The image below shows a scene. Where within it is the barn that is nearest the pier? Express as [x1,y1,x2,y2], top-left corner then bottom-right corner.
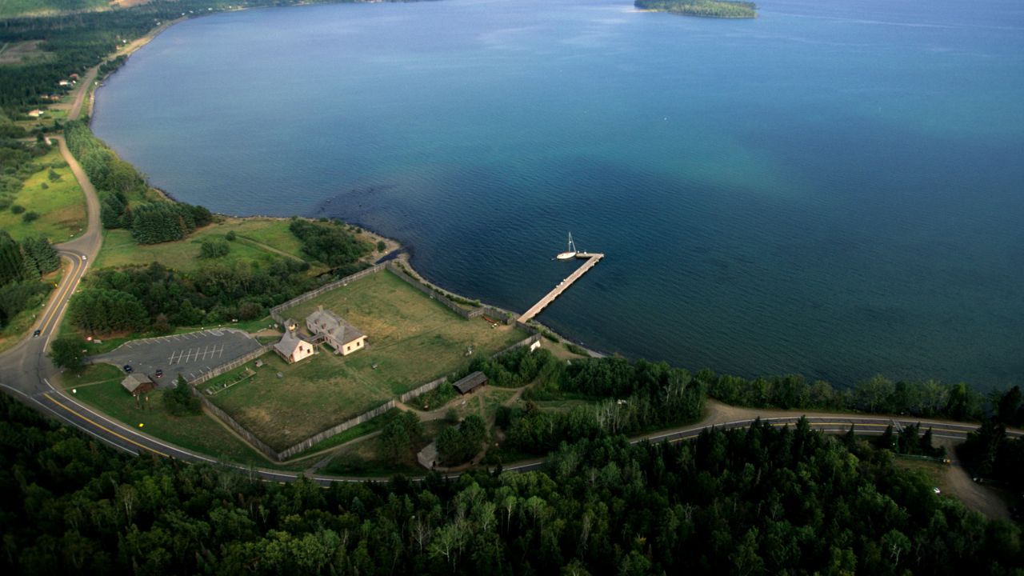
[451,367,488,393]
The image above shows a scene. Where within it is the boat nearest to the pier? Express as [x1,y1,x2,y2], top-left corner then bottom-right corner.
[556,235,576,258]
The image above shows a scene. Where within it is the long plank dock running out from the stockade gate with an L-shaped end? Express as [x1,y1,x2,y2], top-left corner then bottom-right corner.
[516,255,606,325]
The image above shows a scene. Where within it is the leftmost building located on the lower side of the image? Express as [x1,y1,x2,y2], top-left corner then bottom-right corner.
[123,370,156,398]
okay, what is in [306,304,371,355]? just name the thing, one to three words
building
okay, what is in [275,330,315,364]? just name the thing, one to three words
building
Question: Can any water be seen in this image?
Yes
